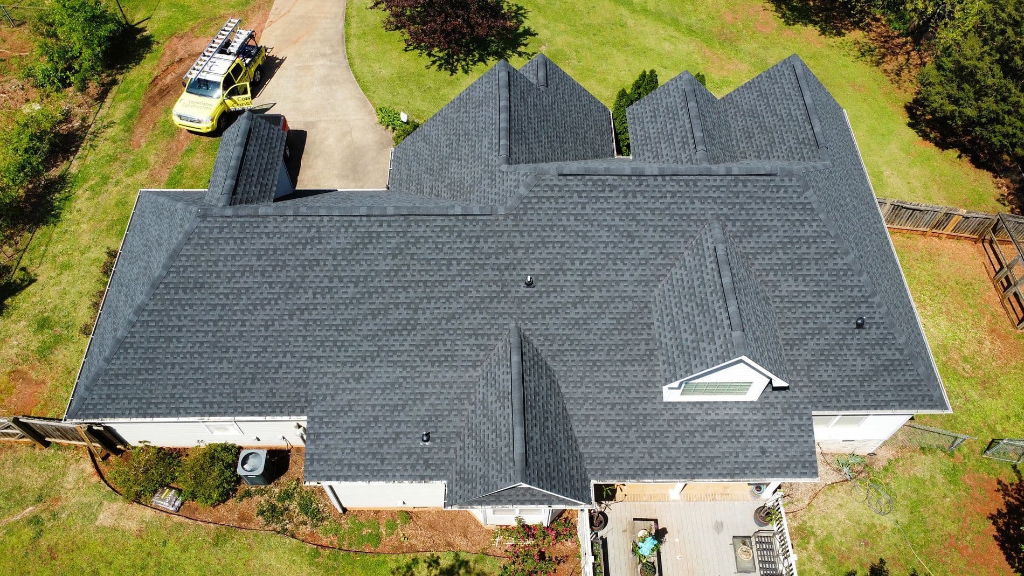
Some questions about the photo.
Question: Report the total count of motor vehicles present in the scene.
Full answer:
The photo contains 2 motor vehicles.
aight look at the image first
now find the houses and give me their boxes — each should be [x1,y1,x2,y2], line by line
[60,51,955,537]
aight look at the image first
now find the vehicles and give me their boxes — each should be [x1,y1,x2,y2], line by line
[171,24,275,137]
[252,114,290,168]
